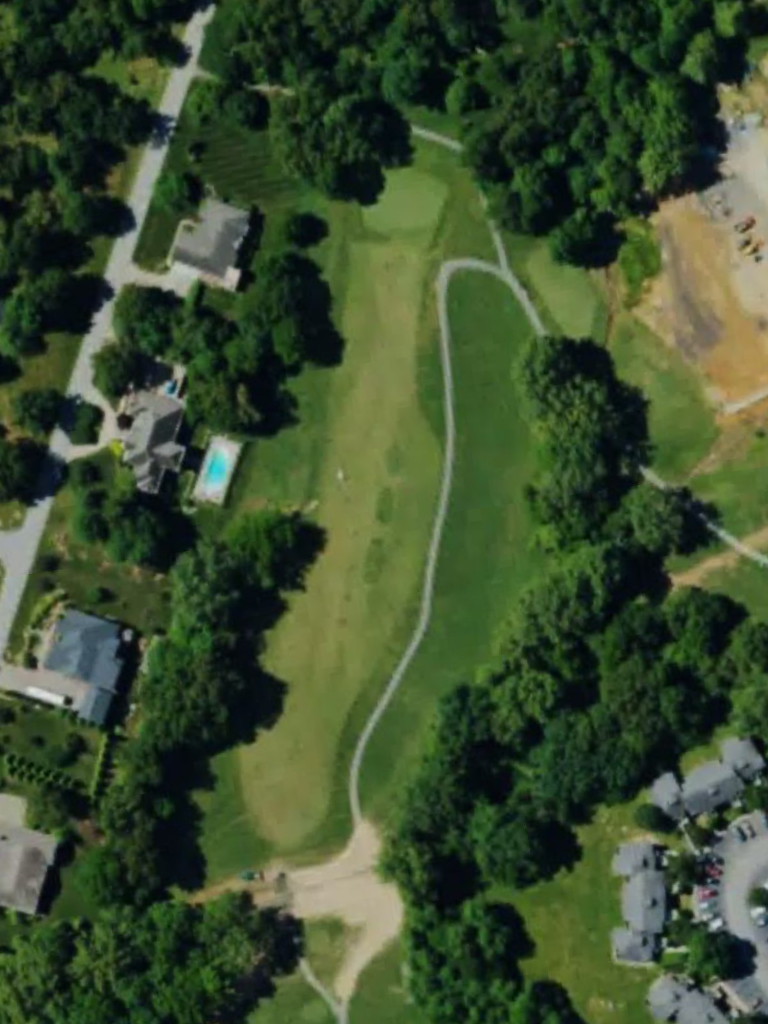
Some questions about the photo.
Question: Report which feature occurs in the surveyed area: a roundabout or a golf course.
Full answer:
Visible in the photo is a golf course.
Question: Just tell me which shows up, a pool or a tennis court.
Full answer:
The one in the frame is a pool.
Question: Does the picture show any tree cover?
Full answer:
Yes, the picture does contain tree cover.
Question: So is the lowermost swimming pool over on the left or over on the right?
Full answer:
You can find the lowermost swimming pool on the left side of the picture.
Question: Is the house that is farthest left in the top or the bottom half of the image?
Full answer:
The house that is farthest left is in the bottom half of the image.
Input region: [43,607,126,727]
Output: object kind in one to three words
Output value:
house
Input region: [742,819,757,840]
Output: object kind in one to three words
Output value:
car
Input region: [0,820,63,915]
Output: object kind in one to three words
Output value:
house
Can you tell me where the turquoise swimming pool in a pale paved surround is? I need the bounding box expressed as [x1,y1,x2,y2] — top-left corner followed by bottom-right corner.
[192,436,242,504]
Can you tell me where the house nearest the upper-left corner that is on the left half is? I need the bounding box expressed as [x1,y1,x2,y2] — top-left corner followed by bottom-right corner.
[173,199,254,277]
